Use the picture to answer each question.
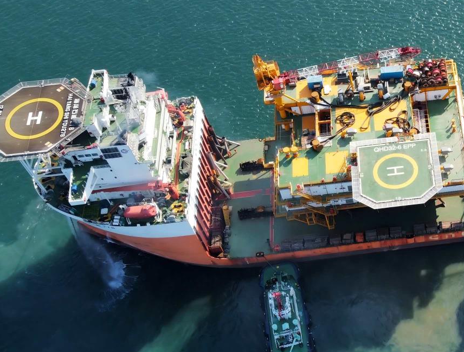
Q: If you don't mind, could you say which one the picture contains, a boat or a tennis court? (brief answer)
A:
boat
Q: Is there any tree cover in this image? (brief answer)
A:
No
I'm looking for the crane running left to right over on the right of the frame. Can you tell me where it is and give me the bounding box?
[247,42,427,131]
